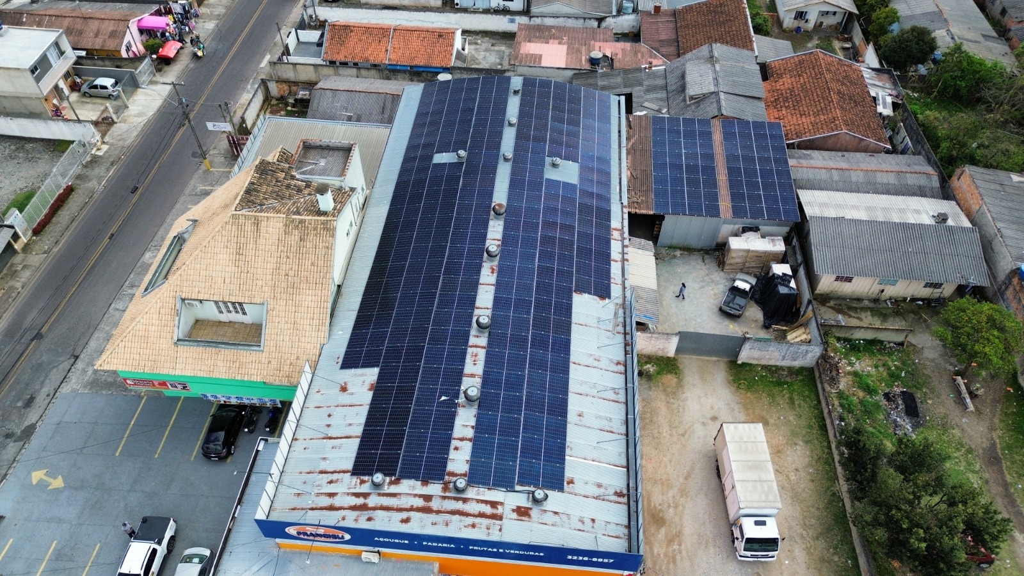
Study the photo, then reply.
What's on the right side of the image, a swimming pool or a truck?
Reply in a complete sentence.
What appears on the right side of the image is a truck.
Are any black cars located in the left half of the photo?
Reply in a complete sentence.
Yes, the scene does show a black car in the left half of the photo.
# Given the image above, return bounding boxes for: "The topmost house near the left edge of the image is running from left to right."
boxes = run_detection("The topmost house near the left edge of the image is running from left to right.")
[0,0,165,69]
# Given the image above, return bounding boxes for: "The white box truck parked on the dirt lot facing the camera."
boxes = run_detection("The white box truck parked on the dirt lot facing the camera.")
[715,420,789,566]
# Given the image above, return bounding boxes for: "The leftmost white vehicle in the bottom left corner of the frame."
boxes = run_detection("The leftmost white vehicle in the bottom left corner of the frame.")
[118,520,179,576]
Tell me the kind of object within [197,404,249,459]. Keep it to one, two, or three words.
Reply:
car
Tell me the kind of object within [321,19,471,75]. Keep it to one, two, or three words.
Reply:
house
